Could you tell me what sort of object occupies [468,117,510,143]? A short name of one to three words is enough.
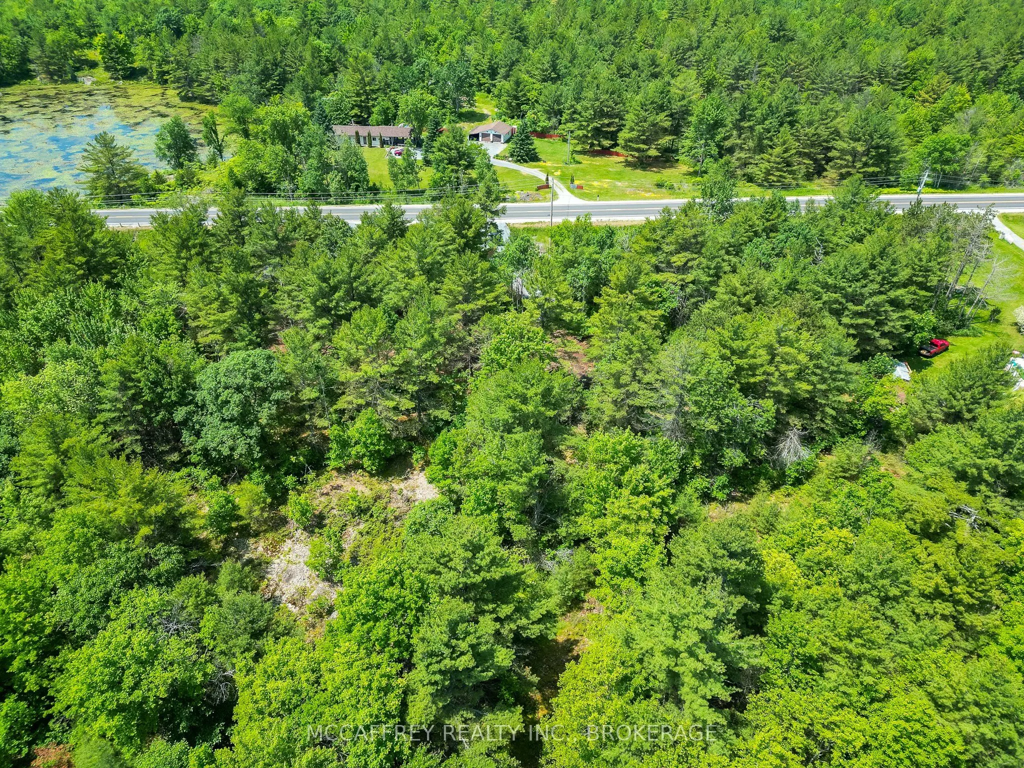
building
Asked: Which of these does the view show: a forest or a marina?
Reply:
forest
